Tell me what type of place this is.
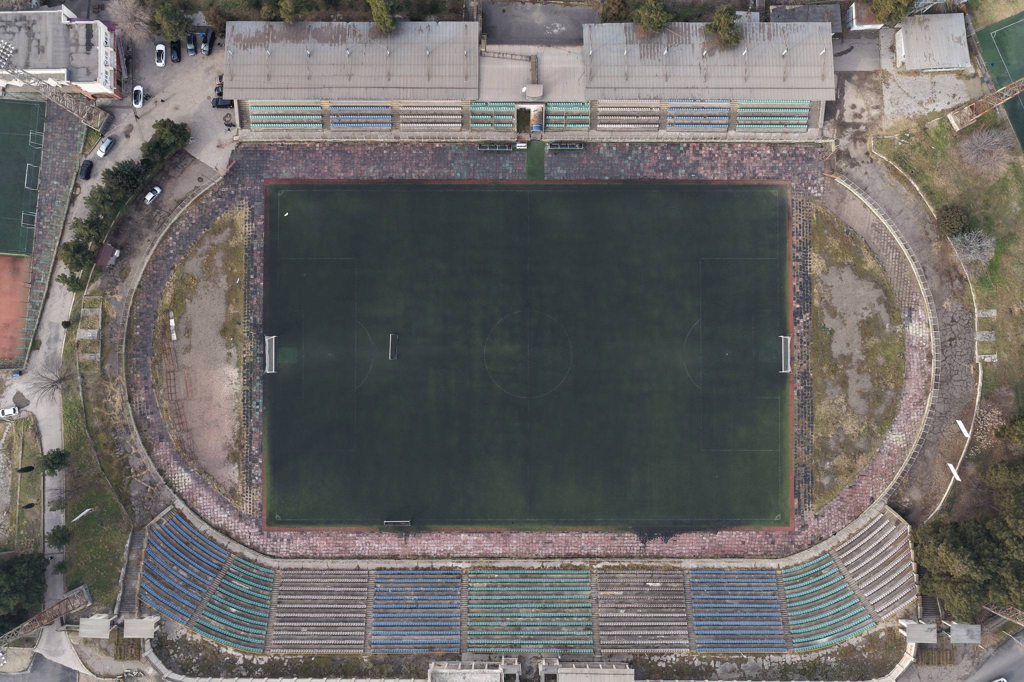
sports ground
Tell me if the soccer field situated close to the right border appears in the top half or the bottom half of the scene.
top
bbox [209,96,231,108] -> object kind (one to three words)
vehicle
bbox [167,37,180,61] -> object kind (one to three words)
vehicle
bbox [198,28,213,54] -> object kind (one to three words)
car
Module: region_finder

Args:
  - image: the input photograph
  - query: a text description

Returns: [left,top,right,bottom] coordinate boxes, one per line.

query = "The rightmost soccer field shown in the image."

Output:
[974,8,1024,150]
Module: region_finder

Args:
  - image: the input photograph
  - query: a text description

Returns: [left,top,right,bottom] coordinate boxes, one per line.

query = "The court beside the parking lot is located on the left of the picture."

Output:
[0,254,31,368]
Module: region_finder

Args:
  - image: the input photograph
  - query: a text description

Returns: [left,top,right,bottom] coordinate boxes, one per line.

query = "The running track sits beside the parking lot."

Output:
[127,141,936,559]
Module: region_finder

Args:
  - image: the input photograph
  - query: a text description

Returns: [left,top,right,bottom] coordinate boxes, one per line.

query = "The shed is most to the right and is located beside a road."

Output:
[890,13,971,75]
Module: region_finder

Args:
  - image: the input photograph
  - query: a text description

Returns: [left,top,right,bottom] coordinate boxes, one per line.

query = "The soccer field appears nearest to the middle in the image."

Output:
[260,180,795,544]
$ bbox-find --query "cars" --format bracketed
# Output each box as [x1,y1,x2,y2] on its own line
[211,84,224,95]
[77,157,92,180]
[0,407,17,418]
[167,37,180,61]
[212,71,224,83]
[95,134,114,157]
[130,84,142,106]
[209,96,231,108]
[141,184,160,205]
[198,28,213,54]
[184,32,196,55]
[152,43,164,65]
